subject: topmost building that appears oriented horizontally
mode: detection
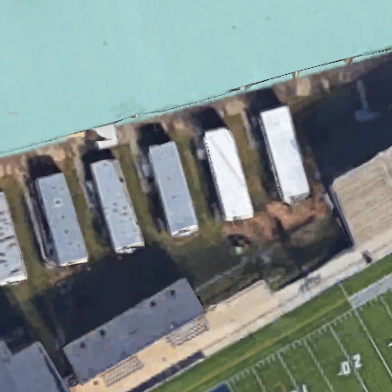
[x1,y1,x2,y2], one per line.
[0,0,392,160]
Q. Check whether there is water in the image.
No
